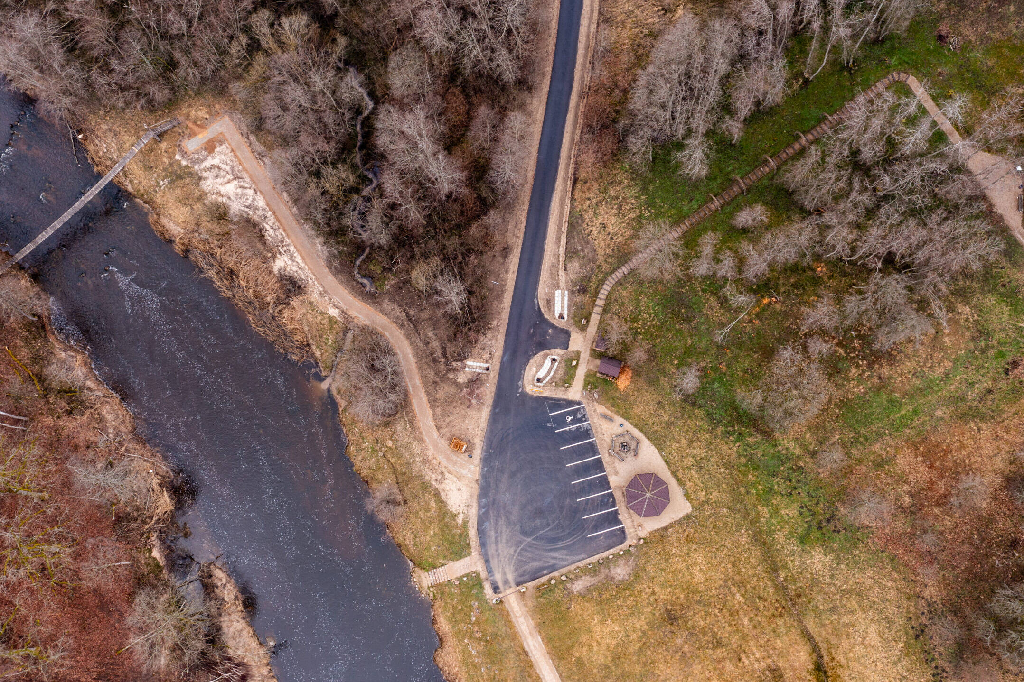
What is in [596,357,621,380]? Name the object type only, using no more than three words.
shed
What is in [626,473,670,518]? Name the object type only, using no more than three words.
gazebo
